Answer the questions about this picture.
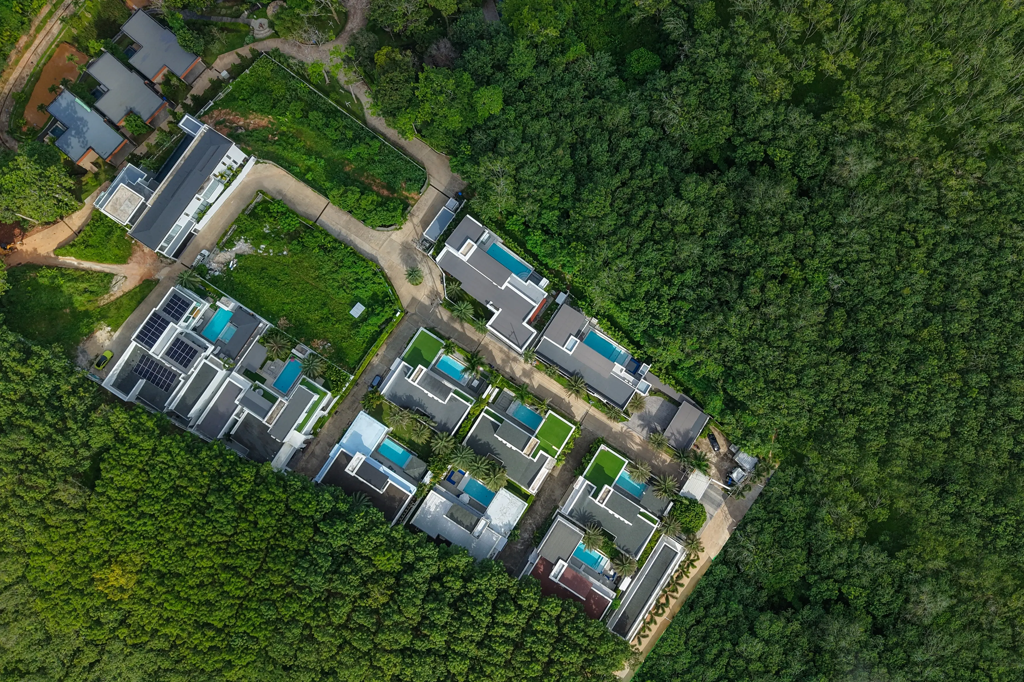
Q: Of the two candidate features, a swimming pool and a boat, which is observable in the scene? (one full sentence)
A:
The image shows a swimming pool.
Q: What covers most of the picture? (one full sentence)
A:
The bulk of the photo consists of trees.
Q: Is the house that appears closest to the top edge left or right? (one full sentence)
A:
You can find the house that appears closest to the top edge on the left side of the picture.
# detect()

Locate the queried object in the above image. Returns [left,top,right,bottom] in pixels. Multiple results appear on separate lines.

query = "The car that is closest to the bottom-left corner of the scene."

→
[93,350,111,370]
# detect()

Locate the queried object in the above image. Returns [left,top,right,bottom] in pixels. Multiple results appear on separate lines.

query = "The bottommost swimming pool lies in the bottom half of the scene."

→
[572,540,611,575]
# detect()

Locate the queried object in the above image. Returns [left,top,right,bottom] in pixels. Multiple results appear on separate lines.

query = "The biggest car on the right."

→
[708,432,722,454]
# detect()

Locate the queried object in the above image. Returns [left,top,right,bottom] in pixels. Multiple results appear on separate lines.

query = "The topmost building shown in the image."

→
[120,8,205,83]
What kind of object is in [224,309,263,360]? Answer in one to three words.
building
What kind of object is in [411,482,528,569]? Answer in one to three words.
house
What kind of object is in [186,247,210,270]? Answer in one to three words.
vehicle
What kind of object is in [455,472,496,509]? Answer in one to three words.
swimming pool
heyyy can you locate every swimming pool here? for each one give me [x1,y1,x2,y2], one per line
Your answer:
[270,356,305,396]
[616,470,650,500]
[572,540,611,575]
[199,306,236,344]
[218,322,239,345]
[154,136,194,184]
[434,353,473,388]
[124,44,137,60]
[88,84,107,100]
[581,329,633,368]
[485,240,536,283]
[376,438,414,469]
[46,120,67,137]
[455,472,496,509]
[625,355,640,377]
[504,398,543,431]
